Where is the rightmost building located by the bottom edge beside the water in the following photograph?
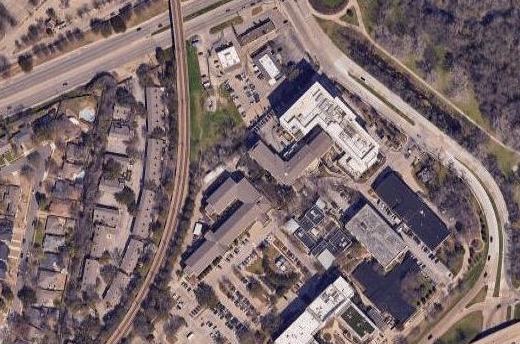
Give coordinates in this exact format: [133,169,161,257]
[274,277,379,344]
